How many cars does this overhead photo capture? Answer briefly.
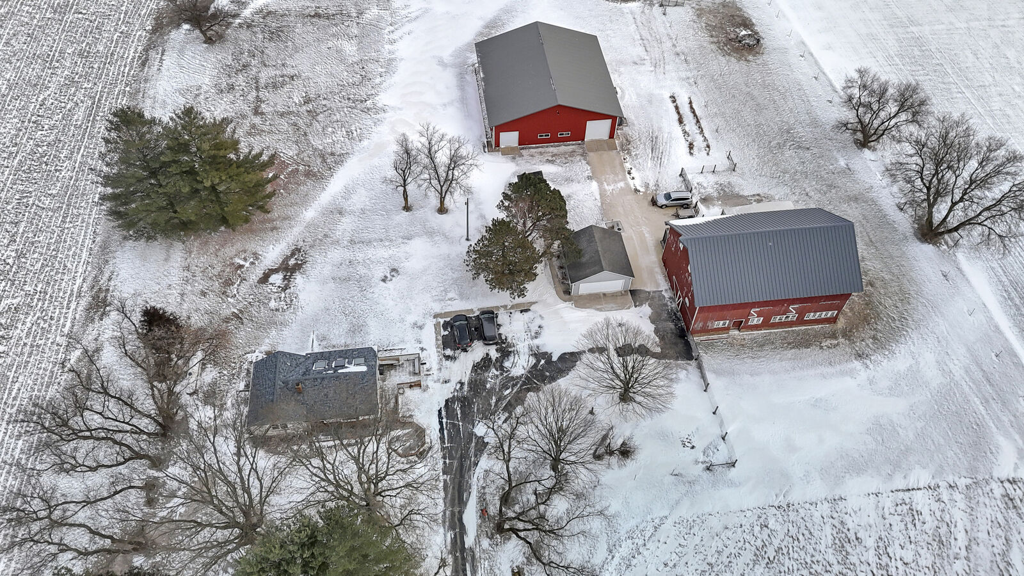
three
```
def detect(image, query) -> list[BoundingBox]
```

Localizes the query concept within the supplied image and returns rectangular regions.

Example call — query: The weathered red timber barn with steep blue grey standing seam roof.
[663,207,864,340]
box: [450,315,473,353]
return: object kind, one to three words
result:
car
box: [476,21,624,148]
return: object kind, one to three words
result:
shed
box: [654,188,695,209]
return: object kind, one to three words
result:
car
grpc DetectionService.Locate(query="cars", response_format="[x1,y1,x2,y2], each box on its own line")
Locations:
[450,315,473,353]
[654,188,695,209]
[476,310,501,349]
